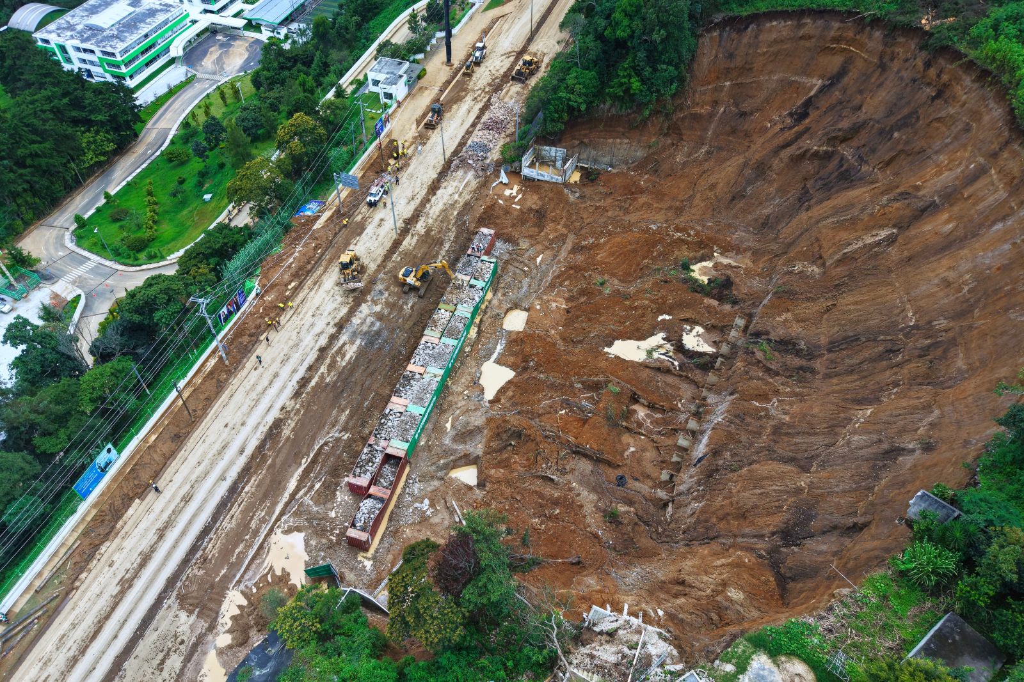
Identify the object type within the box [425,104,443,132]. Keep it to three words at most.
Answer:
work vehicle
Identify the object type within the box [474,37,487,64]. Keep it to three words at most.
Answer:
vehicle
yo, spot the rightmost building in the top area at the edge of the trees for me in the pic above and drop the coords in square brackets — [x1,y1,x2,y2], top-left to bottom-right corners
[355,53,441,102]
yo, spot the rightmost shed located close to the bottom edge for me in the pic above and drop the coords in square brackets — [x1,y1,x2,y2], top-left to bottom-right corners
[901,611,982,682]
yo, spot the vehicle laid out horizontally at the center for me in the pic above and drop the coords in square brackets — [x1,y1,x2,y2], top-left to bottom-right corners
[390,264,453,295]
